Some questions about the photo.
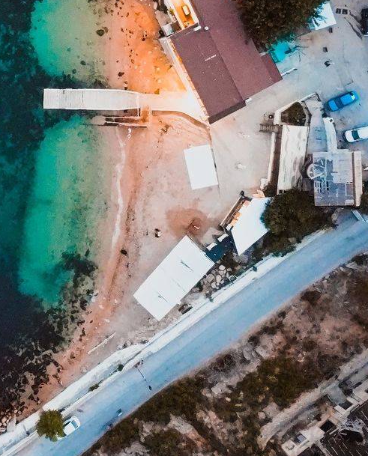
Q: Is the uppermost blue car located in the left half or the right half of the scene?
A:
right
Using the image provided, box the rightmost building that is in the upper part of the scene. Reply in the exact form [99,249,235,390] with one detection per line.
[302,151,354,206]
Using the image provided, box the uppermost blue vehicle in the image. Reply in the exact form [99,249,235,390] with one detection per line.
[325,90,361,113]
